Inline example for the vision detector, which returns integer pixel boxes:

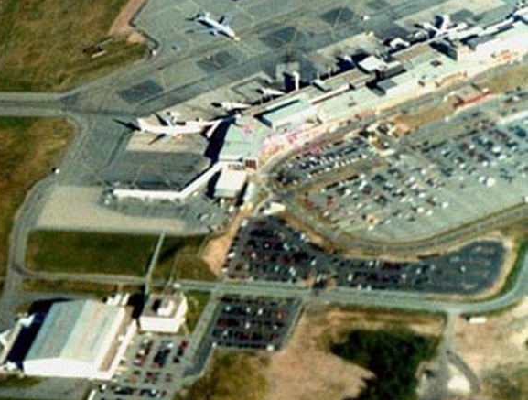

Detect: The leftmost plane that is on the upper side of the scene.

[142,114,202,141]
